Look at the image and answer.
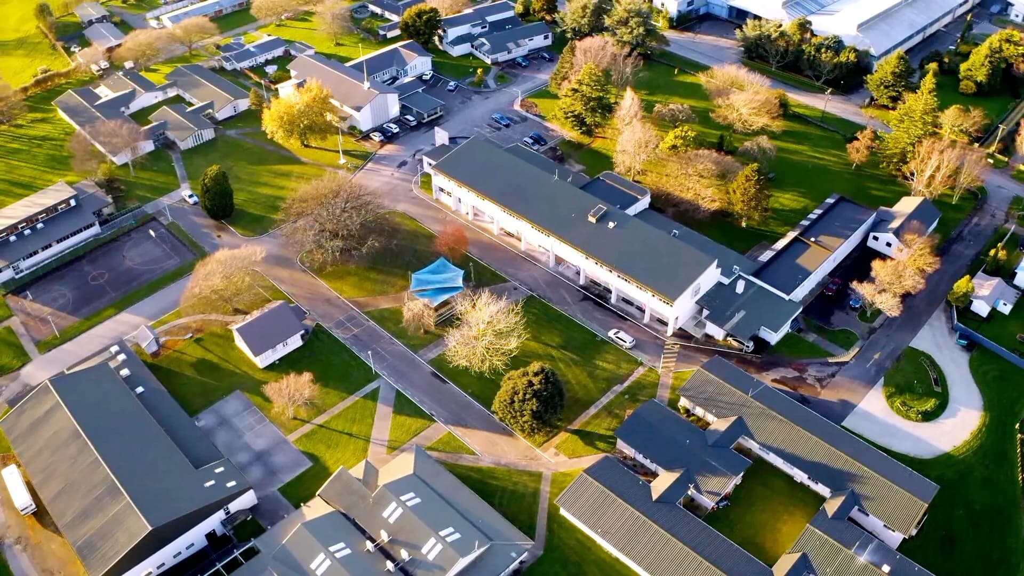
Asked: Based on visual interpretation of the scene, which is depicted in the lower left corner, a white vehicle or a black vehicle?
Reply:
white vehicle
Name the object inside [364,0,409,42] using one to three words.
house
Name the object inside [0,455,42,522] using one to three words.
truck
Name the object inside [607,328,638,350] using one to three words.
car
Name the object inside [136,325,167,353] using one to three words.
shed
